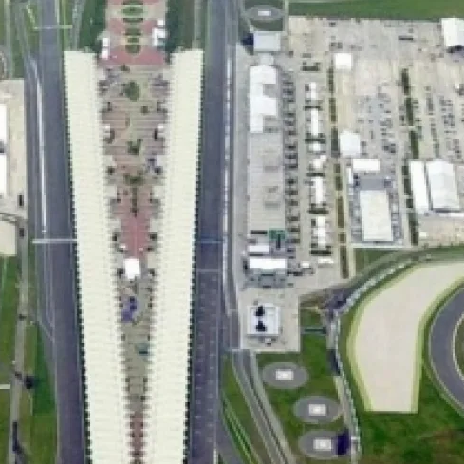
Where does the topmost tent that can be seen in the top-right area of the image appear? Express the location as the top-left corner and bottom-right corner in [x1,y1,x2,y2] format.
[336,51,352,73]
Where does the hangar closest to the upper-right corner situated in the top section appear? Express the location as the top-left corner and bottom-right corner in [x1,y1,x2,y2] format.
[442,14,464,52]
